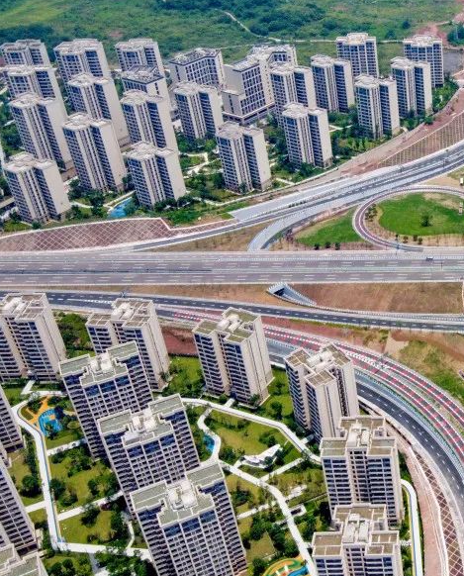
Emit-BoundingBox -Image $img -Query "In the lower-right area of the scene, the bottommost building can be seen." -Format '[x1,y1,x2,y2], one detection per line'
[312,512,406,576]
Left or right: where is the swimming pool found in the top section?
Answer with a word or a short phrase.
left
